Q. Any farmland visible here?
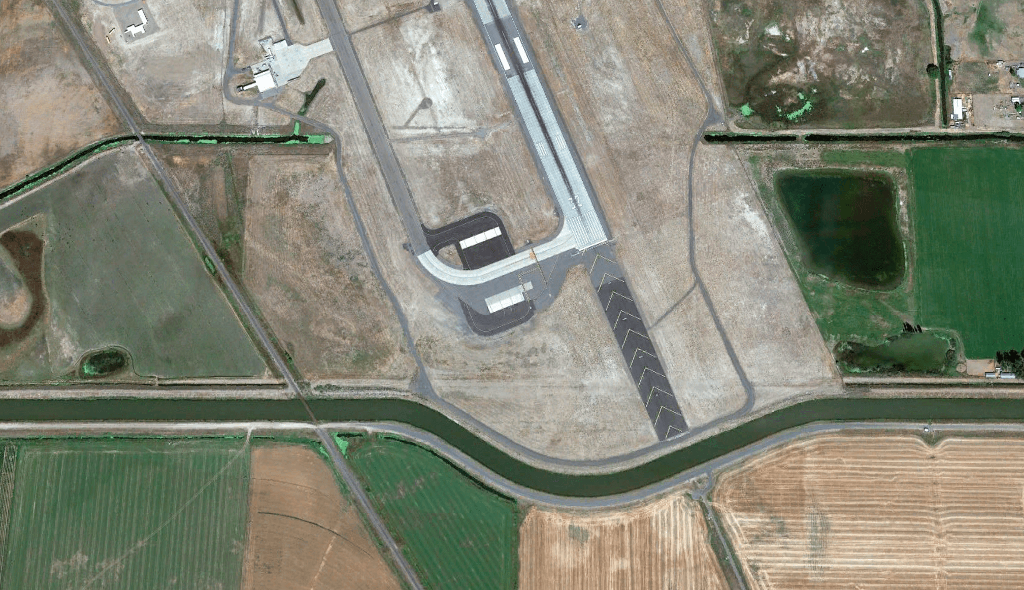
Yes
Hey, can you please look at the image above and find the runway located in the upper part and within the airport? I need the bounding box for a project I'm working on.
[474,0,607,250]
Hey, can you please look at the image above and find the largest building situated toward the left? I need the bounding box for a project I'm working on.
[254,70,276,92]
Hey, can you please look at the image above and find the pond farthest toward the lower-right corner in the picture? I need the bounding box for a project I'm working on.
[834,334,948,372]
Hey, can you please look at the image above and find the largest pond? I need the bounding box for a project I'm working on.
[773,169,905,291]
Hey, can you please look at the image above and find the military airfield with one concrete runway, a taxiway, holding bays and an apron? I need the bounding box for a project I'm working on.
[251,0,688,443]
